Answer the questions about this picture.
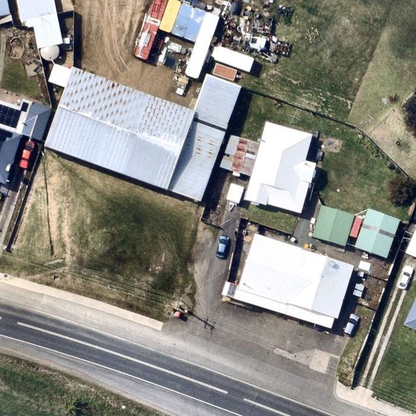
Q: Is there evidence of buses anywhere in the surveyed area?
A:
Yes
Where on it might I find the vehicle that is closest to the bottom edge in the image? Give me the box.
[343,313,360,337]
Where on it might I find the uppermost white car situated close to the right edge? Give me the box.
[398,265,414,291]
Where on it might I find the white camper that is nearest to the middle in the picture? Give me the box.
[227,183,244,207]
